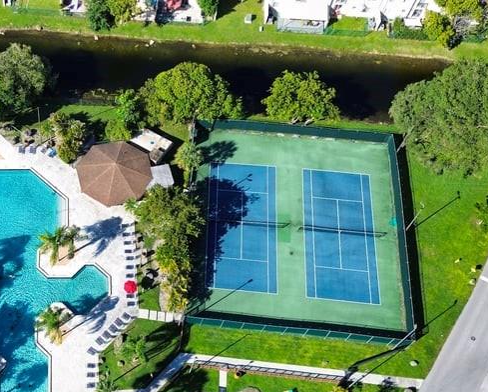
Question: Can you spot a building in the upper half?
Yes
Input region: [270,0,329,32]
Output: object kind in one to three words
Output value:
house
